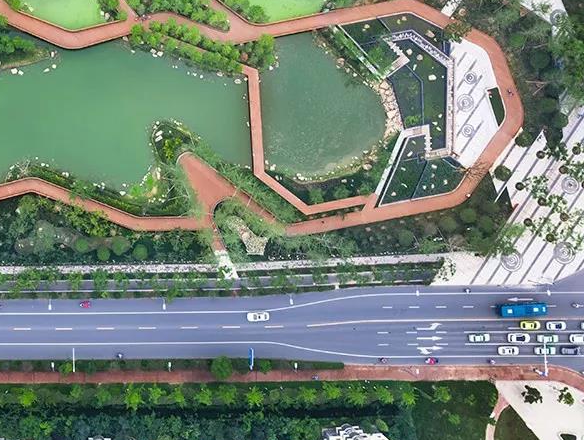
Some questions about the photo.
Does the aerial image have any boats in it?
No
